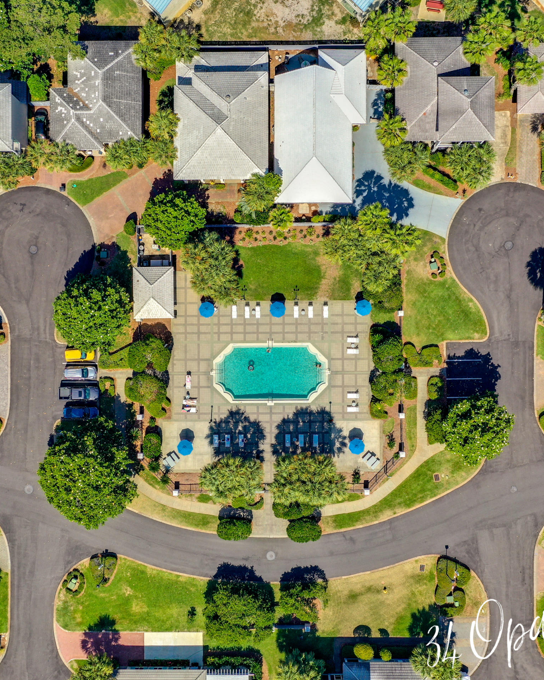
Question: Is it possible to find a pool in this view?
Yes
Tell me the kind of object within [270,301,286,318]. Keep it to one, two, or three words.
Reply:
umbrella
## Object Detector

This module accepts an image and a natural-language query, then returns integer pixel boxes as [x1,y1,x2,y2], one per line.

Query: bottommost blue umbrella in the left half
[177,439,193,456]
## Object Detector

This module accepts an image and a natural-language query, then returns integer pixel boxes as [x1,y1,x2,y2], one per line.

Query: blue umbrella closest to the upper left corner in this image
[199,302,215,318]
